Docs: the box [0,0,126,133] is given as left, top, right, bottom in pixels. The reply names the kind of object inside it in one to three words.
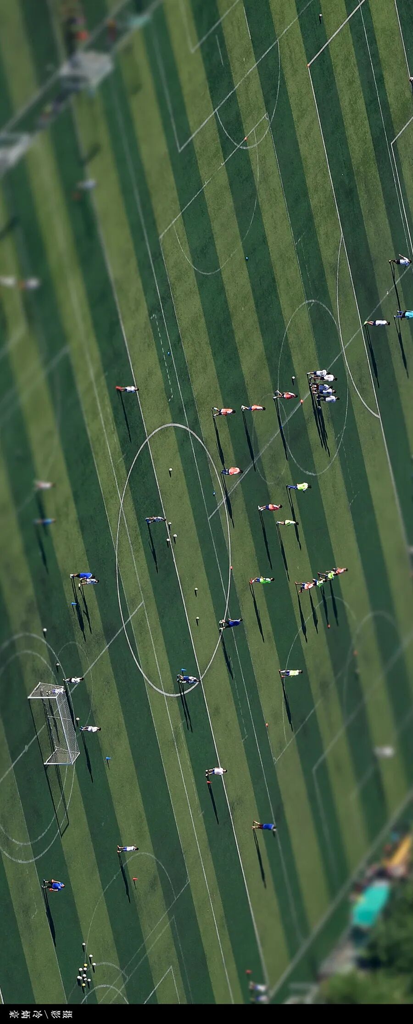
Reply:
soccer field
